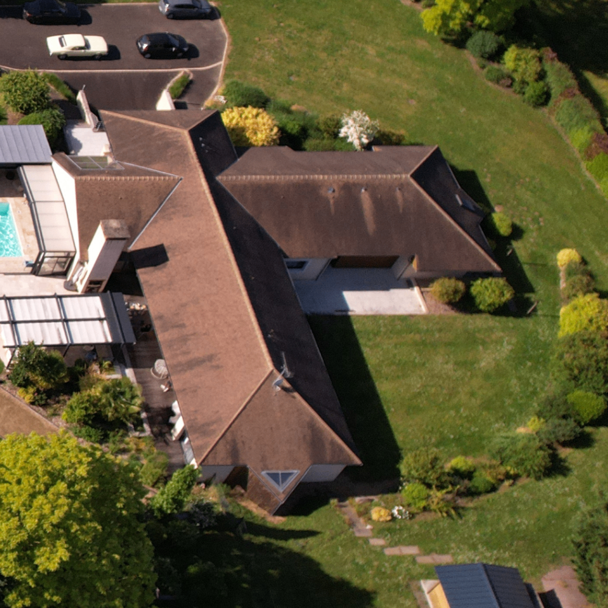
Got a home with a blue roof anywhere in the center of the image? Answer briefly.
No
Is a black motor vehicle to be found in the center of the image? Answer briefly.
No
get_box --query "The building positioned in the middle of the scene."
[51,109,503,510]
